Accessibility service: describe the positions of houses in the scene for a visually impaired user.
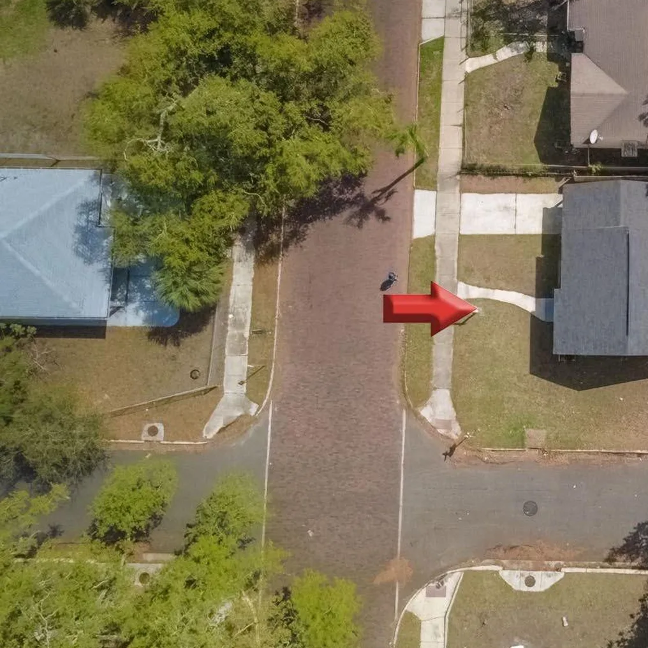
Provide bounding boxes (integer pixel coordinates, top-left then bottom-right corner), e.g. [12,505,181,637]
[0,169,129,322]
[567,0,648,149]
[540,181,648,356]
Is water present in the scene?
No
